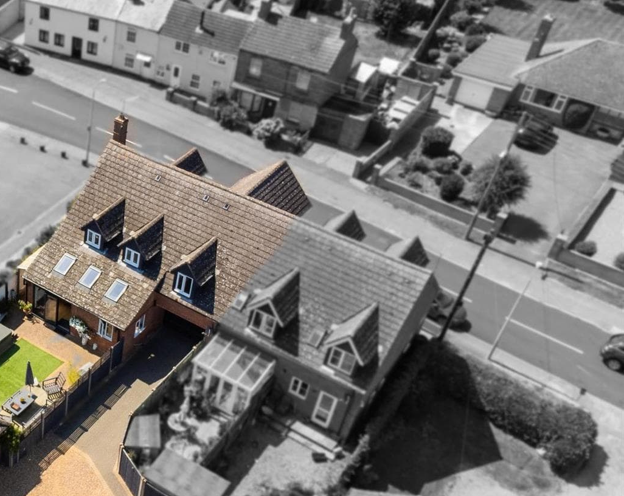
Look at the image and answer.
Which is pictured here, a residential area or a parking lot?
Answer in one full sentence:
What you see here is a residential area.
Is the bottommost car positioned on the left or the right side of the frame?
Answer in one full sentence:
The bottommost car appears in the right half of the scene.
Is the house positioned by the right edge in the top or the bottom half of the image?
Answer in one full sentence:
You can find the house positioned by the right edge in the top half.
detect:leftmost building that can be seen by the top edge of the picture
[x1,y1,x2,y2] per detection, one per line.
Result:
[26,0,124,68]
